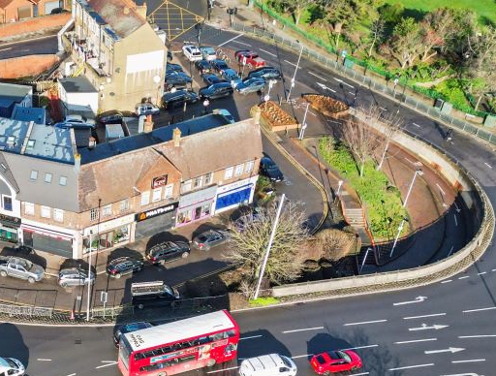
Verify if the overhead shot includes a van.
Yes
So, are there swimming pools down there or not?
No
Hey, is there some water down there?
No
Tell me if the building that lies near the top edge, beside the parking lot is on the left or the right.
left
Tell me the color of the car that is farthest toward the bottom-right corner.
red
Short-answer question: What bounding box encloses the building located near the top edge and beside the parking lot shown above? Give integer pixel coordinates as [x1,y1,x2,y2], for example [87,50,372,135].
[60,0,174,114]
